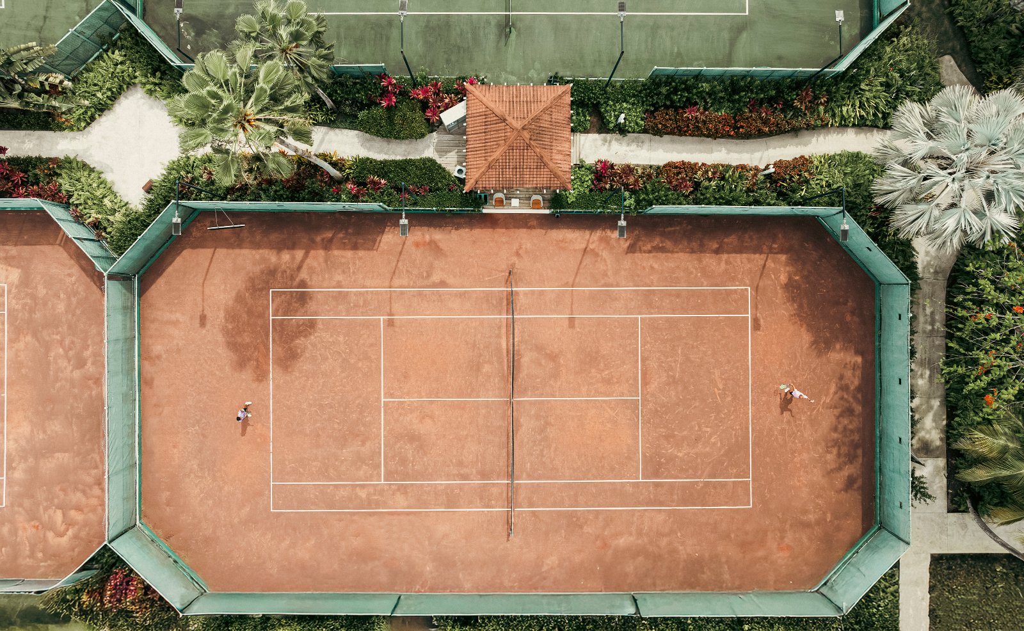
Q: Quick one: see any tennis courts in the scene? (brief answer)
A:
Yes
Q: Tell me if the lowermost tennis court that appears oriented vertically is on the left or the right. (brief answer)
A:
left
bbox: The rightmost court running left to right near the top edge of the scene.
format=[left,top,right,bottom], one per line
[145,0,873,85]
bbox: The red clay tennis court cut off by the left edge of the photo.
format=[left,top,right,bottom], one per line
[0,214,121,579]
